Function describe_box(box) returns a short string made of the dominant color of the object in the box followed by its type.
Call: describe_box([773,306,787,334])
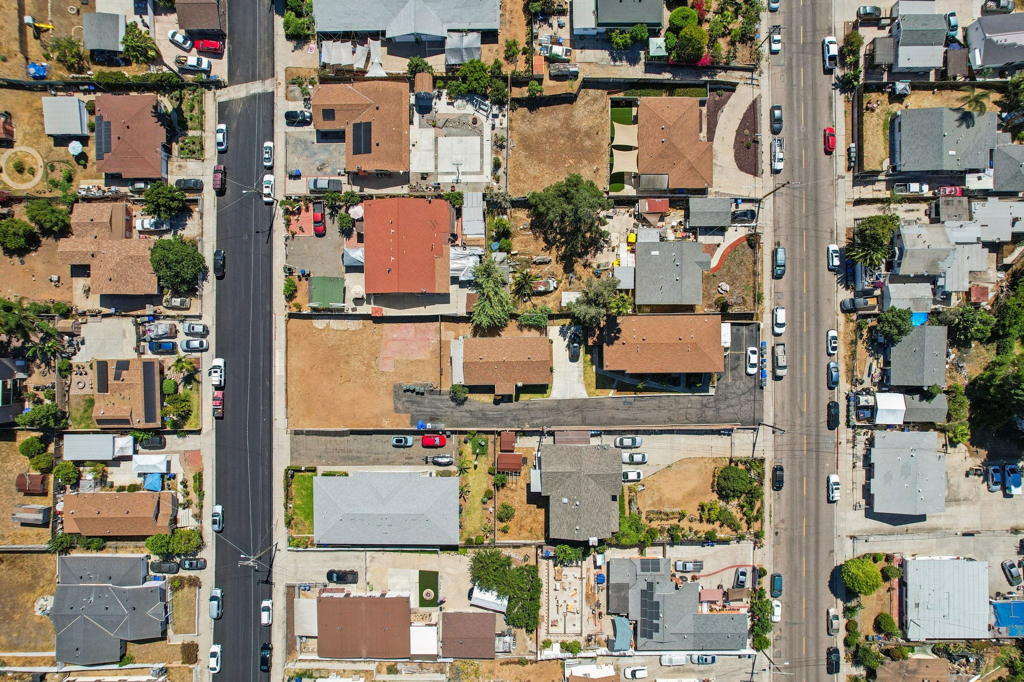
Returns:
white car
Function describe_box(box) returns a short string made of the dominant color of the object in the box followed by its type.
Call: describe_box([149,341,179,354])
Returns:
blue vehicle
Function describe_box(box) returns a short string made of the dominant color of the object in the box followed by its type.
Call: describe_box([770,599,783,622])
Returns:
white vehicle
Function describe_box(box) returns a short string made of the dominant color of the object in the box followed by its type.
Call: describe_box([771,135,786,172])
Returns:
white vehicle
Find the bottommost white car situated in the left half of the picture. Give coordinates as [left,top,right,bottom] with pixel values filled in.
[209,643,223,674]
